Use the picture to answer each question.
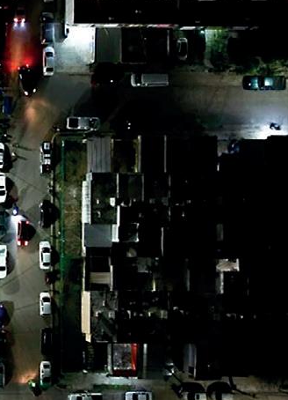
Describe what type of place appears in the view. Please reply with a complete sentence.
This image shows a residential area.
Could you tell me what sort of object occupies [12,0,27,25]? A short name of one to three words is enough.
car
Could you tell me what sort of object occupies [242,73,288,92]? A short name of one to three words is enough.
vehicle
